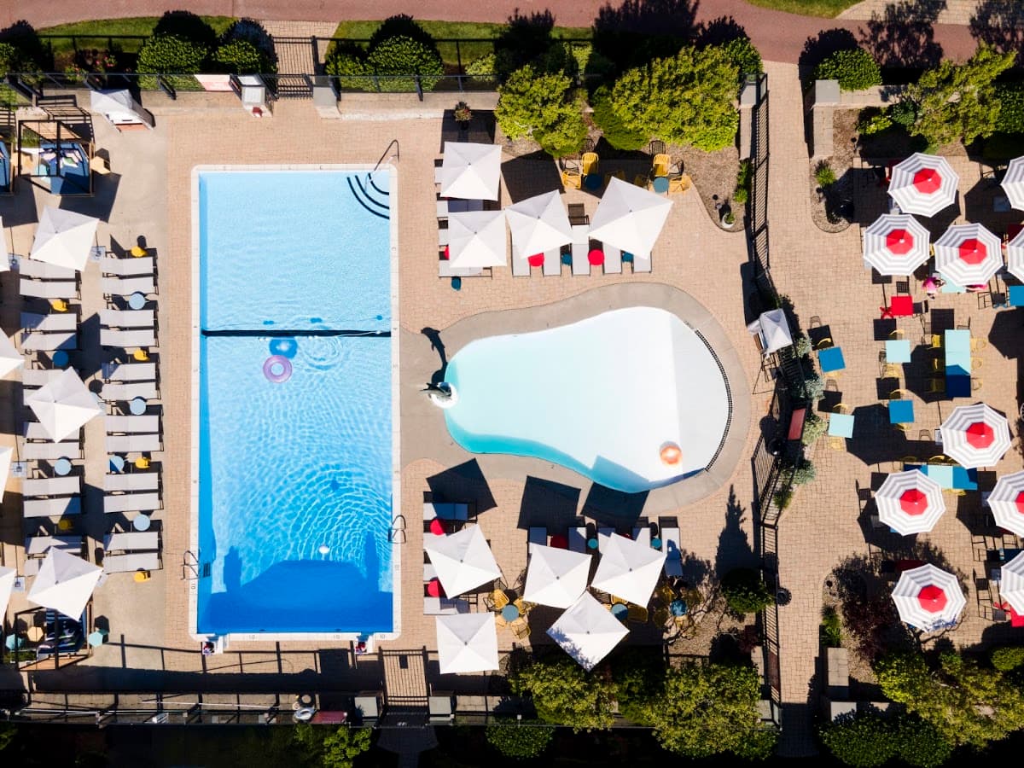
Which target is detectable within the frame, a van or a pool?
pool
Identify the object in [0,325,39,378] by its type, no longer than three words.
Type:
umbrella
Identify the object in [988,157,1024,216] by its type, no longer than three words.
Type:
umbrella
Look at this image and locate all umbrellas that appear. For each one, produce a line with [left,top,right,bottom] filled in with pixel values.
[888,561,965,635]
[449,210,509,269]
[517,540,588,611]
[503,188,576,261]
[0,325,39,378]
[988,157,1024,216]
[546,588,631,672]
[25,545,108,623]
[924,221,1004,289]
[993,228,1024,288]
[974,467,1024,540]
[28,204,110,271]
[0,565,33,626]
[870,466,944,538]
[858,213,929,279]
[591,531,669,610]
[930,401,1010,471]
[435,611,499,677]
[0,443,31,498]
[883,152,958,222]
[983,546,1024,615]
[585,175,673,262]
[23,365,111,444]
[423,521,502,602]
[439,140,501,201]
